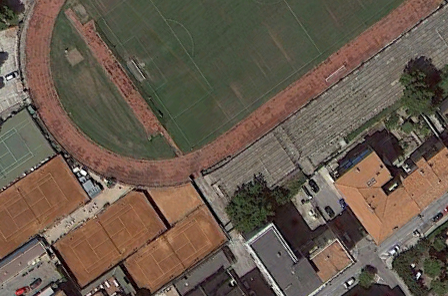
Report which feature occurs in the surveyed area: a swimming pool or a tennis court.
tennis court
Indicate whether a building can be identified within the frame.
Yes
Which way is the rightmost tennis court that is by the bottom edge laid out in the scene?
at an angle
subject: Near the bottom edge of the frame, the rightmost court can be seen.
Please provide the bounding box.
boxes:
[126,205,228,291]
